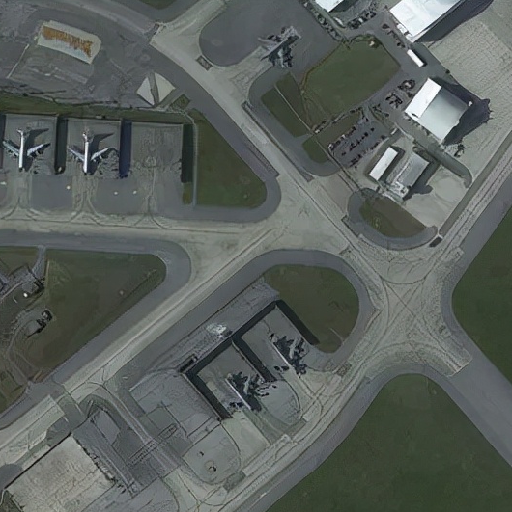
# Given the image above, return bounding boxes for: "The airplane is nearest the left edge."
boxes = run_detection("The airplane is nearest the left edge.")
[2,130,42,170]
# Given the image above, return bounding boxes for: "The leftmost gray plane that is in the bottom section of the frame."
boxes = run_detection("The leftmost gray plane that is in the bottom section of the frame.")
[216,371,253,410]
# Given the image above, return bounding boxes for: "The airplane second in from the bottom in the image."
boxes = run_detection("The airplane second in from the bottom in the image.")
[259,331,295,371]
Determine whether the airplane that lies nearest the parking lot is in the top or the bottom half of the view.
top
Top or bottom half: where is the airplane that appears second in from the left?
top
